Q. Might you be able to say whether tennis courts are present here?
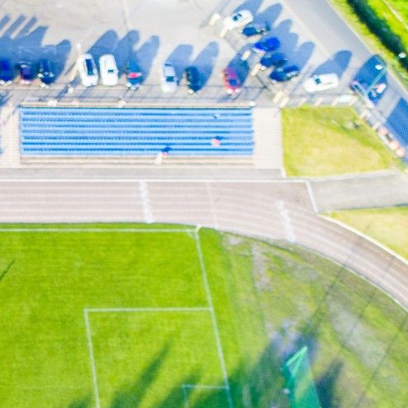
No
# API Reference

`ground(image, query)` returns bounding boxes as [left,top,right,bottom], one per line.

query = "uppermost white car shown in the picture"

[223,8,252,29]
